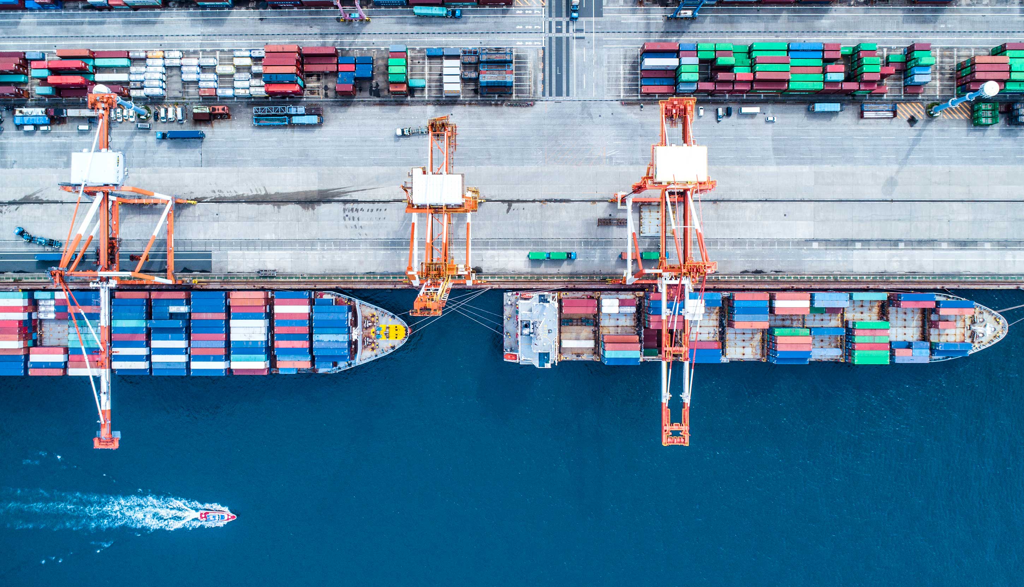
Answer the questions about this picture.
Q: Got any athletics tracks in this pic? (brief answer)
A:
No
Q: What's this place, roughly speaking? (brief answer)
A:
port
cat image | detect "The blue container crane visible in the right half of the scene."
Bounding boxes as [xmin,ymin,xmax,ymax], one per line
[664,0,711,20]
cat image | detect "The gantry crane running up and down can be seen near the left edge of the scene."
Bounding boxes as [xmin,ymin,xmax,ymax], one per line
[43,95,201,448]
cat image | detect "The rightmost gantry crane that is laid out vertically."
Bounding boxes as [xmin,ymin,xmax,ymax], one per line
[607,97,718,447]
